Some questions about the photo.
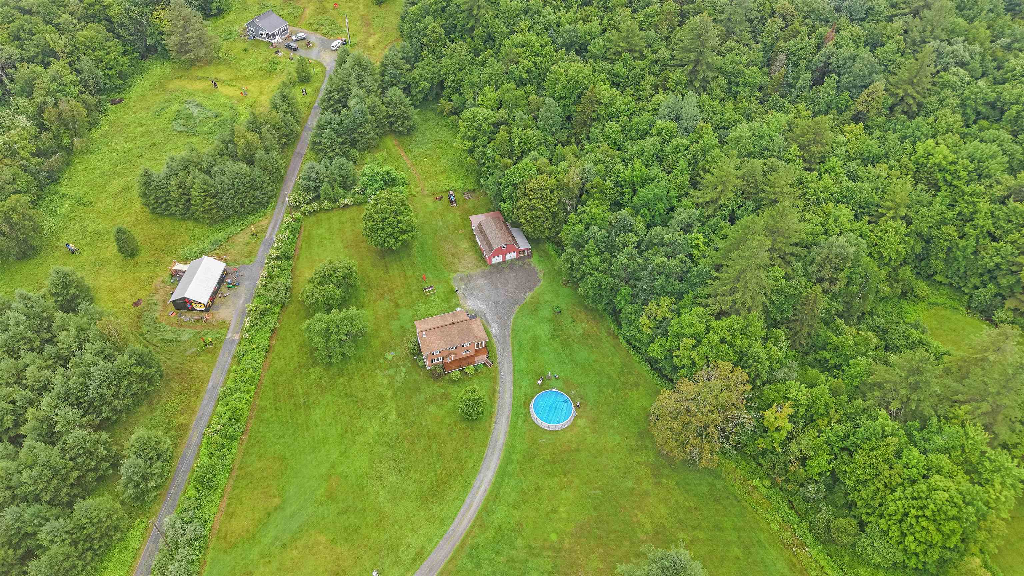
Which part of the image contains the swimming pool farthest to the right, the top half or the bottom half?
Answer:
bottom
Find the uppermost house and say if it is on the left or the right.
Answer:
left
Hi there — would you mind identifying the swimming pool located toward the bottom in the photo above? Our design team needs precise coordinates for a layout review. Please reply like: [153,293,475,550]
[533,389,574,428]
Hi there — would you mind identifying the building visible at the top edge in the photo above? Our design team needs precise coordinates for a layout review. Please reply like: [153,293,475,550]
[245,10,289,43]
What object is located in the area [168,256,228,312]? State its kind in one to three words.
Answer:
building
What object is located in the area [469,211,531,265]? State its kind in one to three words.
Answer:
barn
